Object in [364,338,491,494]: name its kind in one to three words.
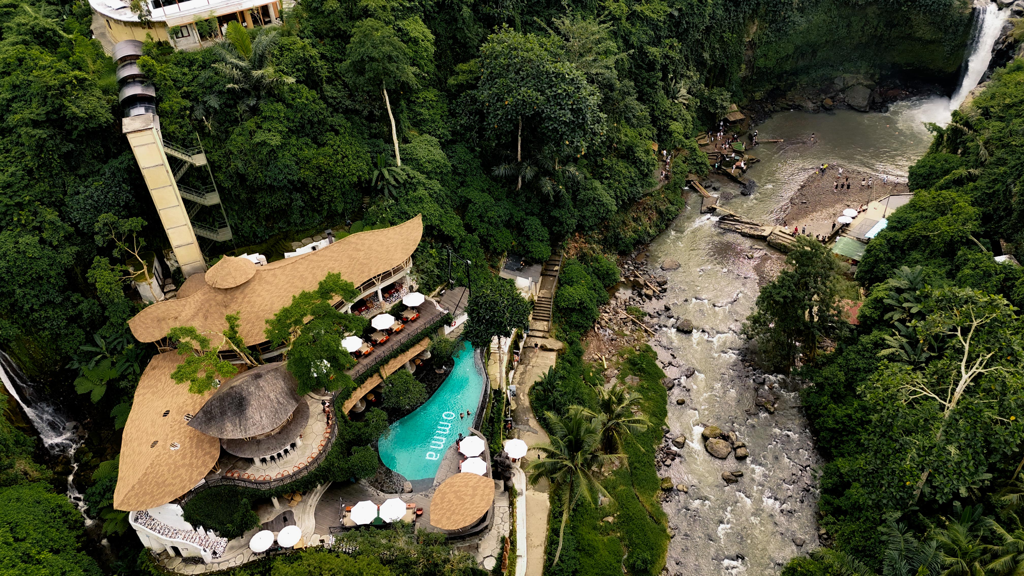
swimming pool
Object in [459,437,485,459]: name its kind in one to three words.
umbrella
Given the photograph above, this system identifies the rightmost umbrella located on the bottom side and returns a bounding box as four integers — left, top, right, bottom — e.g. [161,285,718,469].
[503,439,528,461]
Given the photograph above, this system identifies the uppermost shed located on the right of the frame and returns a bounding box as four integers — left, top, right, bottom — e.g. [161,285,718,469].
[722,104,746,133]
